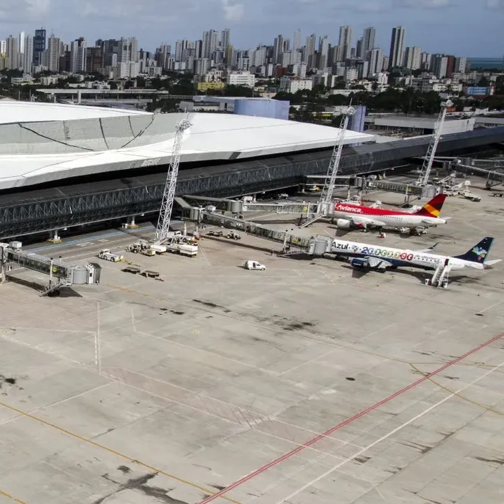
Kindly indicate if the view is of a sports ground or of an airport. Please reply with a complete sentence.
It's an airport.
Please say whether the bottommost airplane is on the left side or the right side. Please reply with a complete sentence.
The bottommost airplane sits on the right side.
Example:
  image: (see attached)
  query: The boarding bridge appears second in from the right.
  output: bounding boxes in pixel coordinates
[298,174,442,207]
